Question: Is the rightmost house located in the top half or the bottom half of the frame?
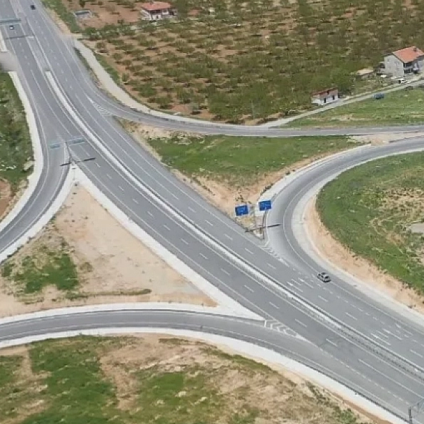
top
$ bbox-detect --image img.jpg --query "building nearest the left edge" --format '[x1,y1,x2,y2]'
[137,1,177,20]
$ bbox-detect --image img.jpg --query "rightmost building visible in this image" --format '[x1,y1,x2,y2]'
[388,48,424,78]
